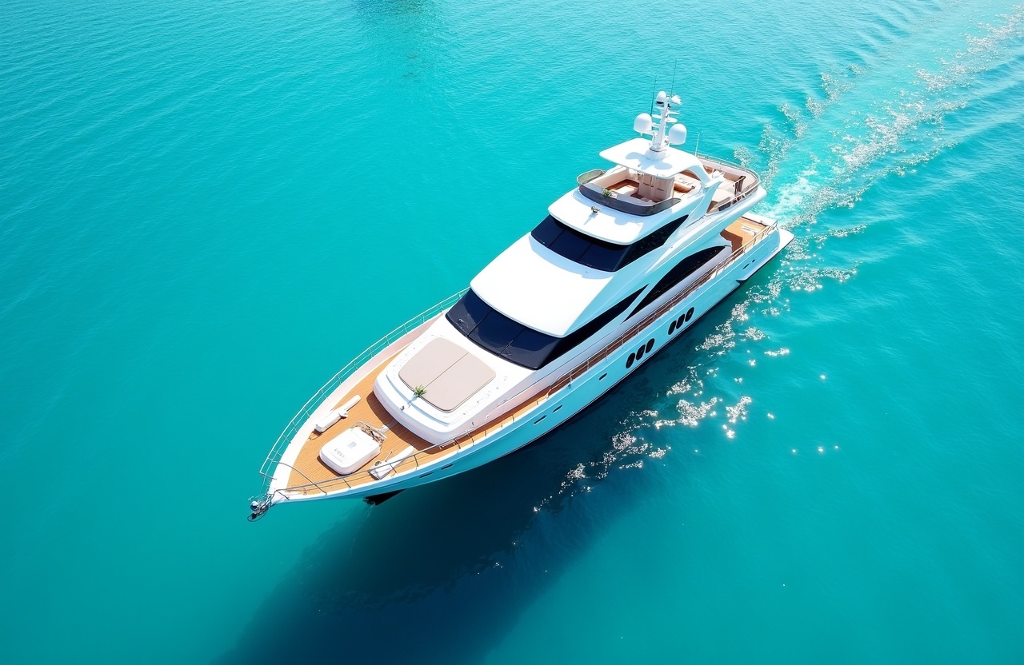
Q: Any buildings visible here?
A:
No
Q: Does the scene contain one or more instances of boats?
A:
Yes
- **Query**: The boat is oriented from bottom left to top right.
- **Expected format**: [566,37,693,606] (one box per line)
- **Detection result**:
[247,55,790,527]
